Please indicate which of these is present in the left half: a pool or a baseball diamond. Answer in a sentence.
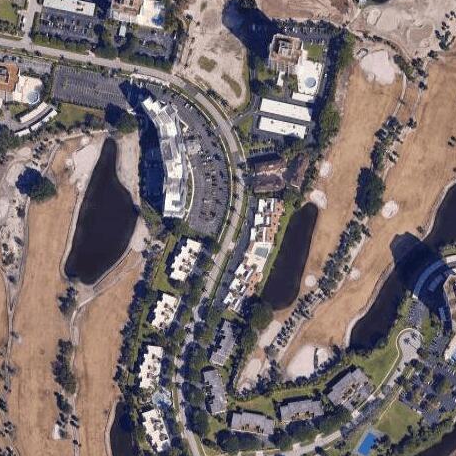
The feature located in the left half is a pool.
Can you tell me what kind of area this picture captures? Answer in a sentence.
The picture captures a golf course.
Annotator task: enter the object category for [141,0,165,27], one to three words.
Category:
swimming pool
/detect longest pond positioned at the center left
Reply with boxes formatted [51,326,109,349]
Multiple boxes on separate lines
[65,138,138,283]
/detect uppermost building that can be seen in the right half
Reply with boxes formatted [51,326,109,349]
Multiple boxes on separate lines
[269,33,303,72]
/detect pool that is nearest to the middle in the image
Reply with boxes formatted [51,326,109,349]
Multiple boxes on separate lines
[247,243,272,272]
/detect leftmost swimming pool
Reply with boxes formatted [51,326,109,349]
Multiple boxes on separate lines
[17,76,43,104]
